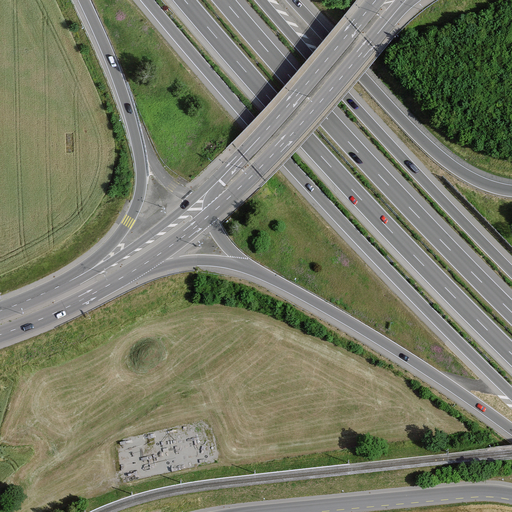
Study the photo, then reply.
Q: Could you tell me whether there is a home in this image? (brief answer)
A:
No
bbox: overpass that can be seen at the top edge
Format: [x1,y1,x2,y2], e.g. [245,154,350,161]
[190,0,394,190]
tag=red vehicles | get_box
[349,196,358,205]
[380,214,389,224]
[476,404,486,412]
